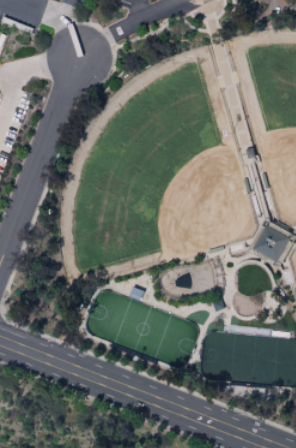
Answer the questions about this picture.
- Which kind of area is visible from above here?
sports ground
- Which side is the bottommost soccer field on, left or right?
right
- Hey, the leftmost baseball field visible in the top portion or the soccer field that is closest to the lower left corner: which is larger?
the baseball field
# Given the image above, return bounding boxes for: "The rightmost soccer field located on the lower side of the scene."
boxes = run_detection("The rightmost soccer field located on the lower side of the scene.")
[200,332,296,387]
